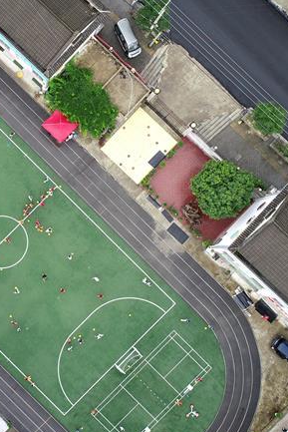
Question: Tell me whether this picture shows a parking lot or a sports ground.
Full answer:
This image shows a sports ground.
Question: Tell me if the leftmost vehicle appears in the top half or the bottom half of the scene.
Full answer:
The leftmost vehicle sits in the top half of the picture.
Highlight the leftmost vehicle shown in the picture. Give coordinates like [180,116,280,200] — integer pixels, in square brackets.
[115,18,140,60]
